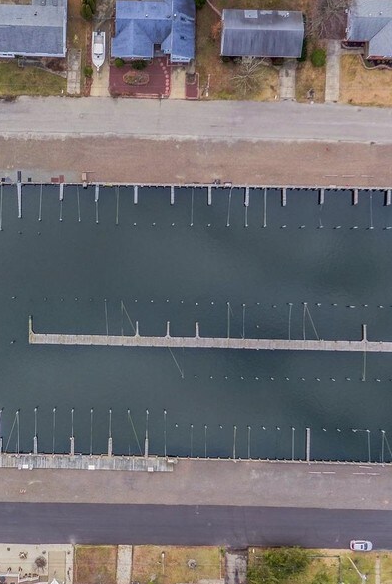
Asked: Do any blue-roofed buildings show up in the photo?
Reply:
Yes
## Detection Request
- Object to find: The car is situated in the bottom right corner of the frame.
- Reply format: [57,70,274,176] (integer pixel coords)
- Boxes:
[348,538,372,552]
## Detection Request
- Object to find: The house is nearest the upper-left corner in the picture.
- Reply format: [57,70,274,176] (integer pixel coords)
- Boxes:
[0,0,67,65]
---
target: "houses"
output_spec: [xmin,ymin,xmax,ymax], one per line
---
[222,9,308,60]
[0,0,67,65]
[0,572,19,584]
[344,0,392,61]
[110,0,196,63]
